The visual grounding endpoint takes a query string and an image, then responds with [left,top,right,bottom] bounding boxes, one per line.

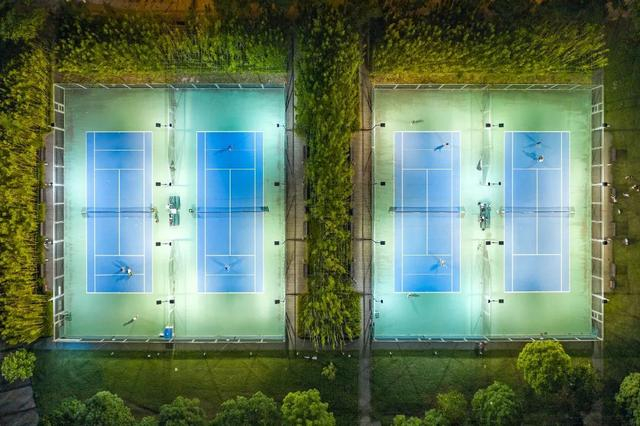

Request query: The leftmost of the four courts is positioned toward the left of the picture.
[64,88,174,337]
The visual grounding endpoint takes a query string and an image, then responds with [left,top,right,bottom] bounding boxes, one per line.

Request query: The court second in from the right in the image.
[374,88,483,337]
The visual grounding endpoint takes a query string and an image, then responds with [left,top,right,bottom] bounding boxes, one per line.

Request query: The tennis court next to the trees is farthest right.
[483,88,592,337]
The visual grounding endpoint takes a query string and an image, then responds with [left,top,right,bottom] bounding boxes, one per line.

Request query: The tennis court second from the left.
[174,88,286,337]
